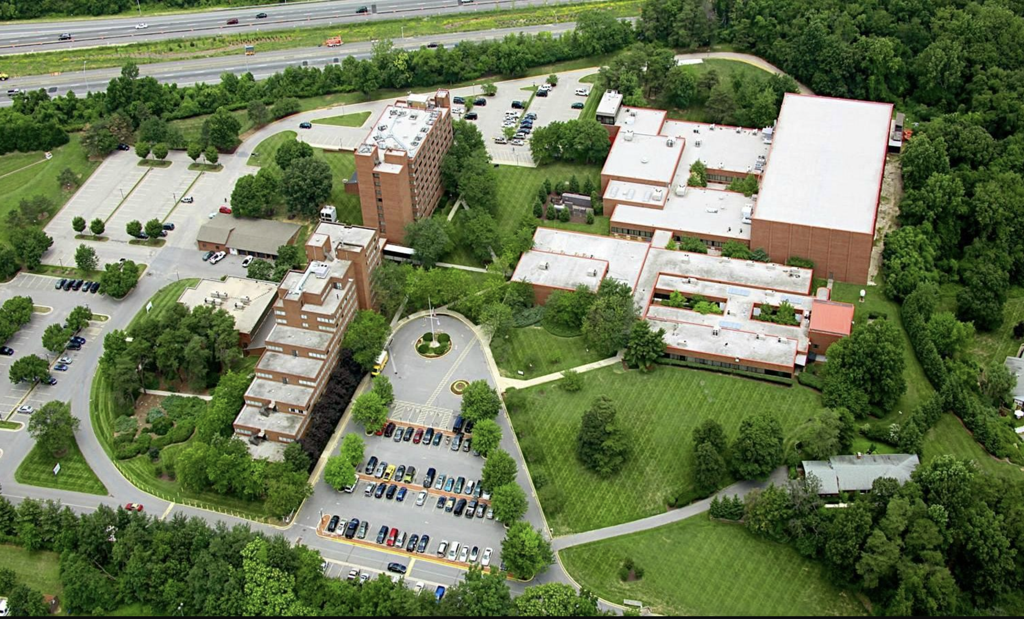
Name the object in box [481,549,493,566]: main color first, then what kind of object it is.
white vehicle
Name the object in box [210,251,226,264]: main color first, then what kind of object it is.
white vehicle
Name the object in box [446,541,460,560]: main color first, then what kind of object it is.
white car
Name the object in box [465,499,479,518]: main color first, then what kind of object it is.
gray vehicle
